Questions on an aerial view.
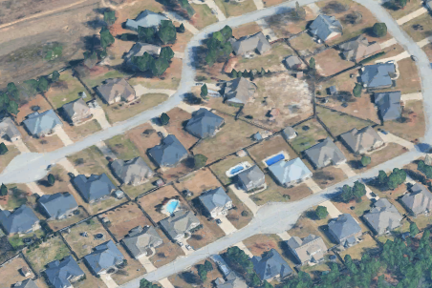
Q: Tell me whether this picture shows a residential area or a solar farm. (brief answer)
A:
residential area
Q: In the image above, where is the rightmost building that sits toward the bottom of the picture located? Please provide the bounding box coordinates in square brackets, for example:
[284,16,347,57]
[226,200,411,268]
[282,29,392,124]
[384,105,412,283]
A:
[397,186,432,213]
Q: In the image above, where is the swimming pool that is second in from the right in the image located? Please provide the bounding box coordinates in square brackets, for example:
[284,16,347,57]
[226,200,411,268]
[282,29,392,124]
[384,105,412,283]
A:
[227,163,249,176]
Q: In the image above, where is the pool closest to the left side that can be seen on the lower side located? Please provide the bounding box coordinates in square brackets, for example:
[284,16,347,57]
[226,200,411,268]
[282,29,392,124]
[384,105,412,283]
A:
[163,197,185,212]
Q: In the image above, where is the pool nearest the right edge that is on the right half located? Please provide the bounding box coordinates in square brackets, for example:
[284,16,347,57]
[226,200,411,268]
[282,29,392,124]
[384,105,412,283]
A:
[263,151,288,166]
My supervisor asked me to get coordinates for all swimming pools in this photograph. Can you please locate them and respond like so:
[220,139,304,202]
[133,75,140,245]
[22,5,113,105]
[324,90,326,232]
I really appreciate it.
[227,163,249,176]
[263,151,288,166]
[163,197,185,212]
